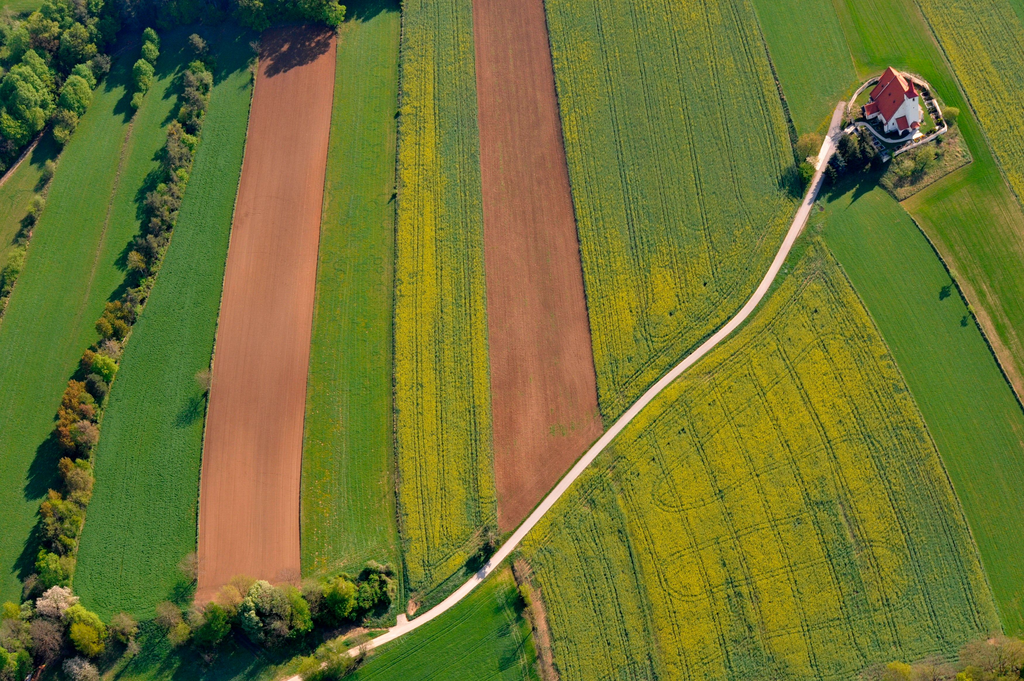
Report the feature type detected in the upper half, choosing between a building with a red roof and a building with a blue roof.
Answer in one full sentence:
It is a building with a red roof that can be seen in the upper half.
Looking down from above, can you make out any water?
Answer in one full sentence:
No, the picture contains no water.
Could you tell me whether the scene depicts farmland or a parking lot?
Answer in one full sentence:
The picture captures farmland.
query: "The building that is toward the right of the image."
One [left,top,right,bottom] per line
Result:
[864,66,925,136]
